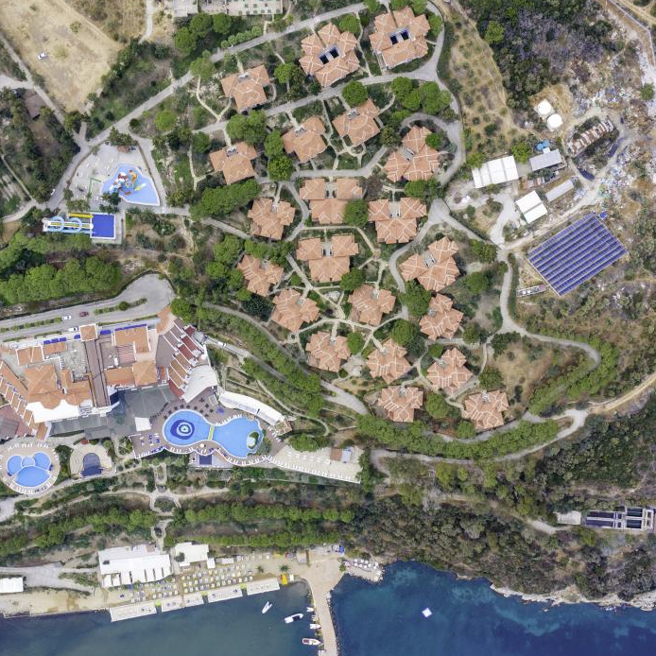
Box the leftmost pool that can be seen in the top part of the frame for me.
[90,213,116,239]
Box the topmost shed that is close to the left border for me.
[22,91,43,118]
